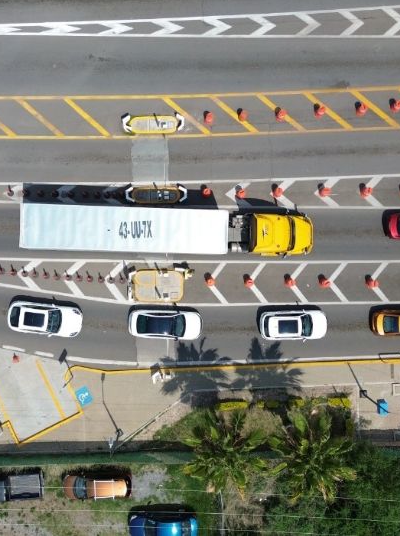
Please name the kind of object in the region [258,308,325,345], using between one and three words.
car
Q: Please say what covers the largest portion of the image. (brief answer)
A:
paved ground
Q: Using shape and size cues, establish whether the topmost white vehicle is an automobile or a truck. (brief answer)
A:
truck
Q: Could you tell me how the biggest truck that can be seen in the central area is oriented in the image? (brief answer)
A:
from left to right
